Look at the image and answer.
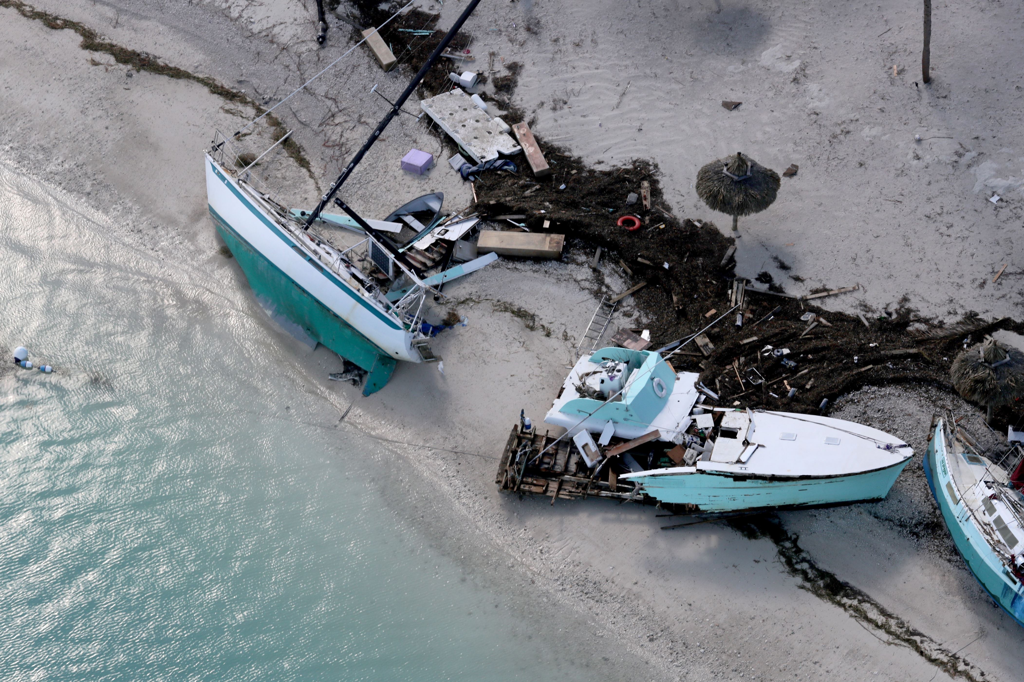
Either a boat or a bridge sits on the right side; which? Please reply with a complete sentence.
What appears on the right side is a boat.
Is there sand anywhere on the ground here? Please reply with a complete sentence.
Yes, sand shows up in the scene.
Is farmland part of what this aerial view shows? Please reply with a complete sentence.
No, the picture contains no farmland.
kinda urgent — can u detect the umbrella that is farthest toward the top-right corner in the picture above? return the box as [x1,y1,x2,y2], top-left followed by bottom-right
[694,146,785,238]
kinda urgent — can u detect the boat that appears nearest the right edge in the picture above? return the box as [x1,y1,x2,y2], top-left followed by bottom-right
[931,412,1024,643]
